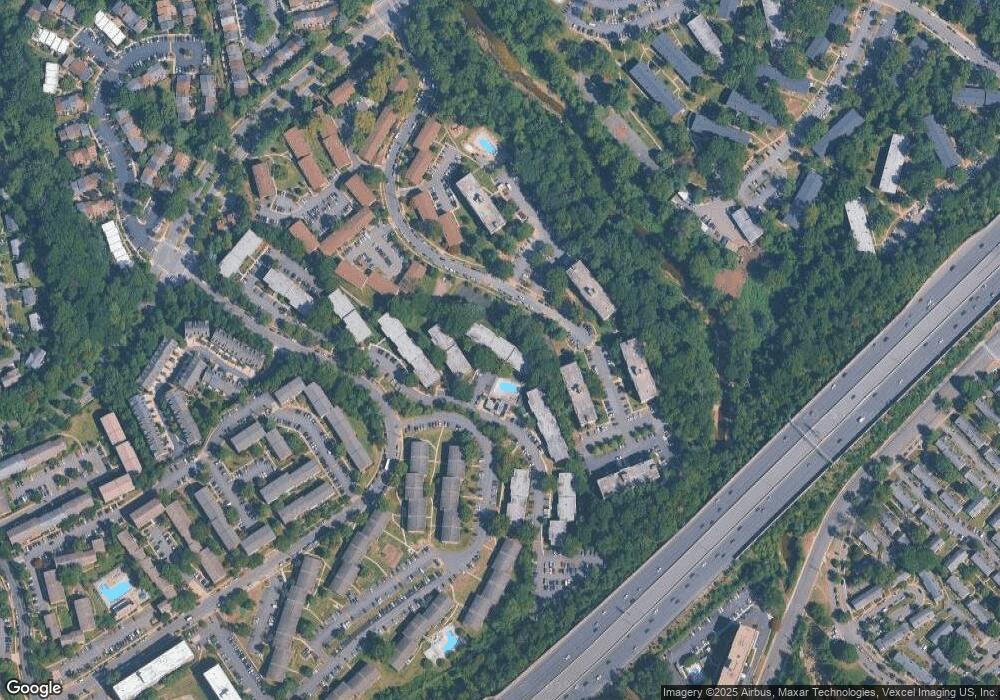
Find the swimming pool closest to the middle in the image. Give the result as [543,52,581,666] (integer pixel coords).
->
[489,377,523,403]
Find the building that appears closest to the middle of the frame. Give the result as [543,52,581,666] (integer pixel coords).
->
[467,322,523,370]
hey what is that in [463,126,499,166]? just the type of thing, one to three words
swimming pool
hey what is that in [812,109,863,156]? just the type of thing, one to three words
building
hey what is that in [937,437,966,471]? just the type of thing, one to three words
house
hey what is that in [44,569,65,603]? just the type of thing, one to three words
building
